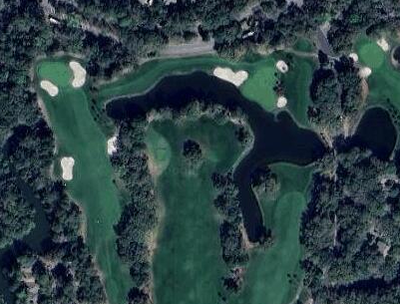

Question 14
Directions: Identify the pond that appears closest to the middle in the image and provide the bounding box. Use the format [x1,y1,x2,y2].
[103,71,327,243]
